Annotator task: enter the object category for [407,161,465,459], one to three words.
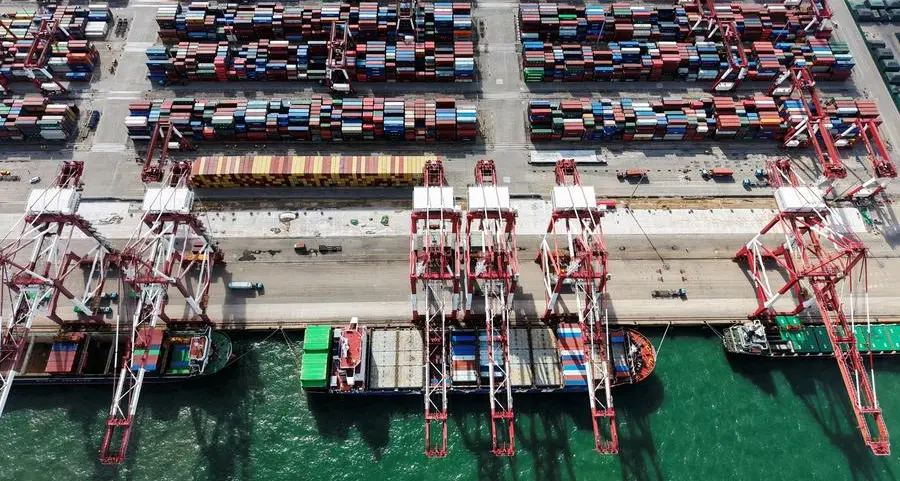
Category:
container crane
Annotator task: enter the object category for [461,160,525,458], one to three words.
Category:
container crane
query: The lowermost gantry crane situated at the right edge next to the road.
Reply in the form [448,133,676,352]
[731,159,890,452]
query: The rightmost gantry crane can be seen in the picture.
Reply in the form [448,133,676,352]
[824,118,891,197]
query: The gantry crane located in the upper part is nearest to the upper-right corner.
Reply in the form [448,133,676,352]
[781,0,835,42]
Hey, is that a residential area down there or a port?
port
